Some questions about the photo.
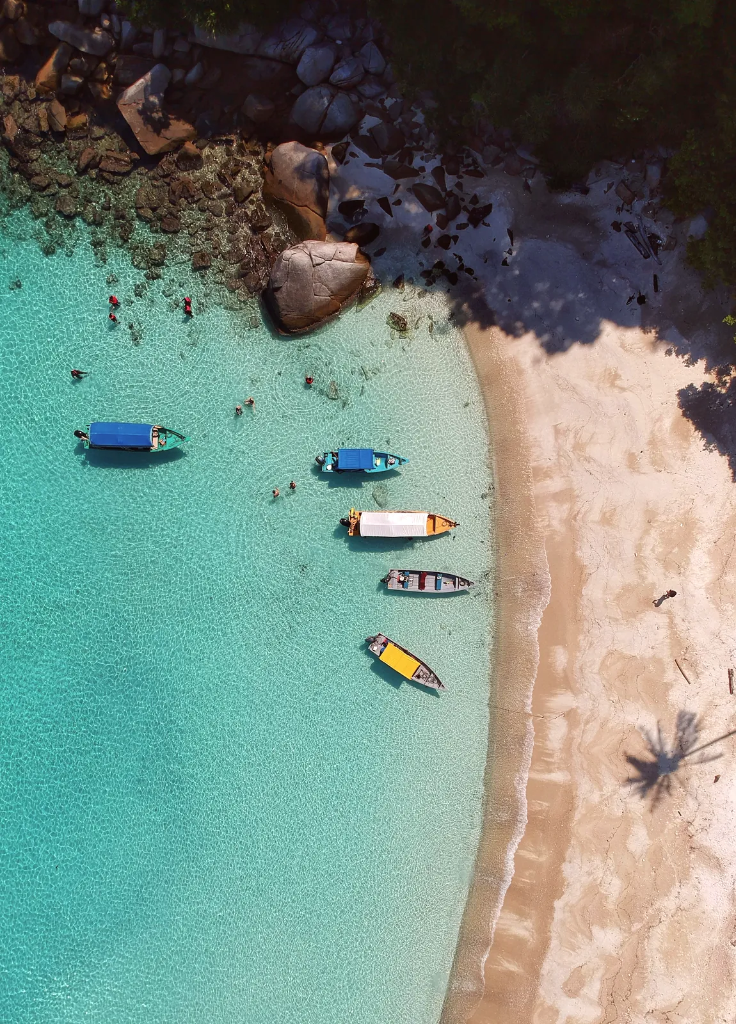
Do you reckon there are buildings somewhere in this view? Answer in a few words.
No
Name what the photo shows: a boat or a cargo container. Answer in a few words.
boat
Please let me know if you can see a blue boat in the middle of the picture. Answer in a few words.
Yes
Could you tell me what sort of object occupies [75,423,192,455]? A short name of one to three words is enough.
boat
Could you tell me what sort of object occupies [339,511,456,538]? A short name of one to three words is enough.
boat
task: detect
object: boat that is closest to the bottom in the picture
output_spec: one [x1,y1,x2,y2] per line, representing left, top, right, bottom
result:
[367,634,446,690]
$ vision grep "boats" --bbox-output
[378,570,476,594]
[313,448,409,474]
[367,634,446,690]
[339,511,456,538]
[75,423,192,455]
